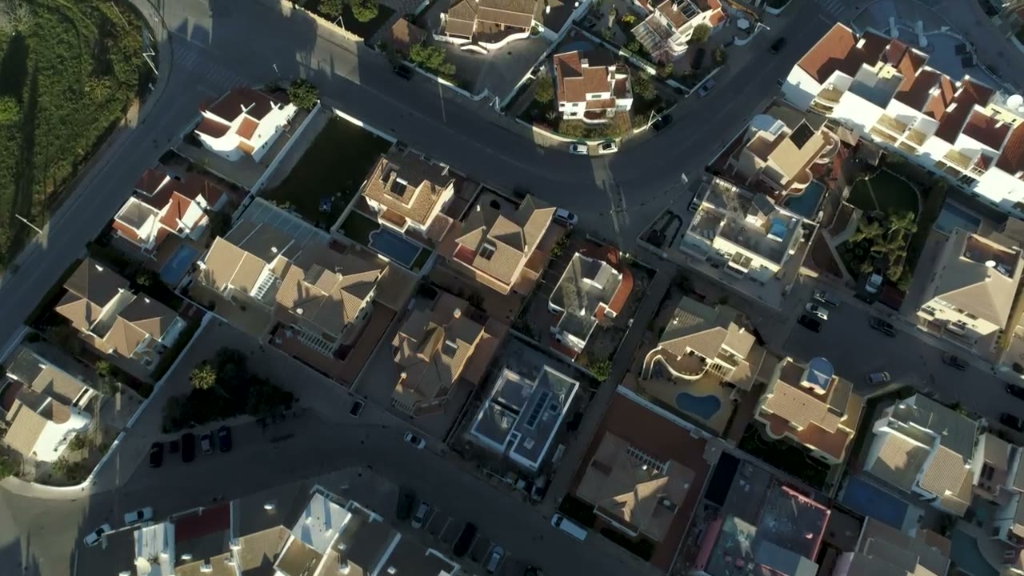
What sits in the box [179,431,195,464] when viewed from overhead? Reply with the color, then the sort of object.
black vehicle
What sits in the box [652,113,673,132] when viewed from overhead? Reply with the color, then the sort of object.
black car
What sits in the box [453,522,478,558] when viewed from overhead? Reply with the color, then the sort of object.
black car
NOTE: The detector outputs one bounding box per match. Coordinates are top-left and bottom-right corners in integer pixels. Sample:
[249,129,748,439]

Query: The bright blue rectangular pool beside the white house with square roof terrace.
[157,245,202,286]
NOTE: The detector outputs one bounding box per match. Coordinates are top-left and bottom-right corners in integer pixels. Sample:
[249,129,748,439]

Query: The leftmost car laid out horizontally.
[121,507,153,525]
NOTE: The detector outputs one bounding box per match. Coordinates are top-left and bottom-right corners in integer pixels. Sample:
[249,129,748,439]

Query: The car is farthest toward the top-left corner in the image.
[392,62,416,80]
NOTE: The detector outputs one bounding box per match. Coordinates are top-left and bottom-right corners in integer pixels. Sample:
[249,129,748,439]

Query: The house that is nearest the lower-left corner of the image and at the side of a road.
[84,538,142,576]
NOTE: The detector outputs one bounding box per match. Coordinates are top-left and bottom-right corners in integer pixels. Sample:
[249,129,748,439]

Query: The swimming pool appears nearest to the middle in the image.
[367,224,425,270]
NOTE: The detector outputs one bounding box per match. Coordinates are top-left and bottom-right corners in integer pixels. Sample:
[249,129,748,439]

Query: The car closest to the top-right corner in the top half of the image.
[769,35,788,55]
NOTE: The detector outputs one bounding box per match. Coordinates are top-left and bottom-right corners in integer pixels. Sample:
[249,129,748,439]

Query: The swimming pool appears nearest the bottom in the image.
[949,527,991,576]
